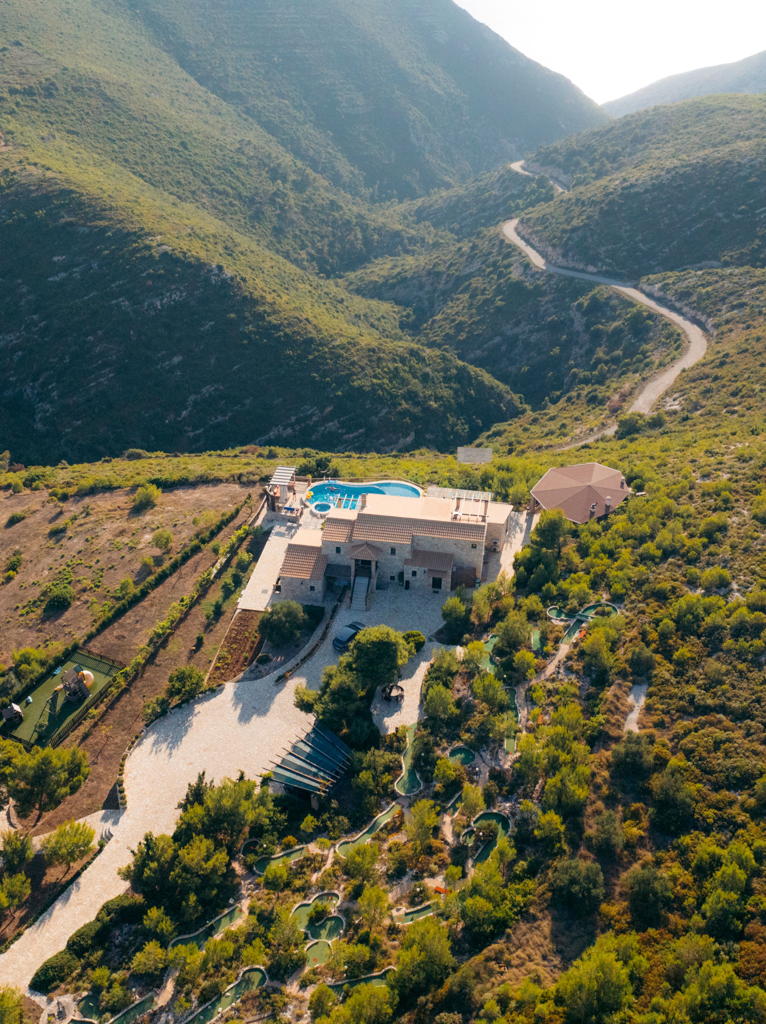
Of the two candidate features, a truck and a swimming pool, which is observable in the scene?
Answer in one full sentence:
I can see a swimming pool in this picture.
